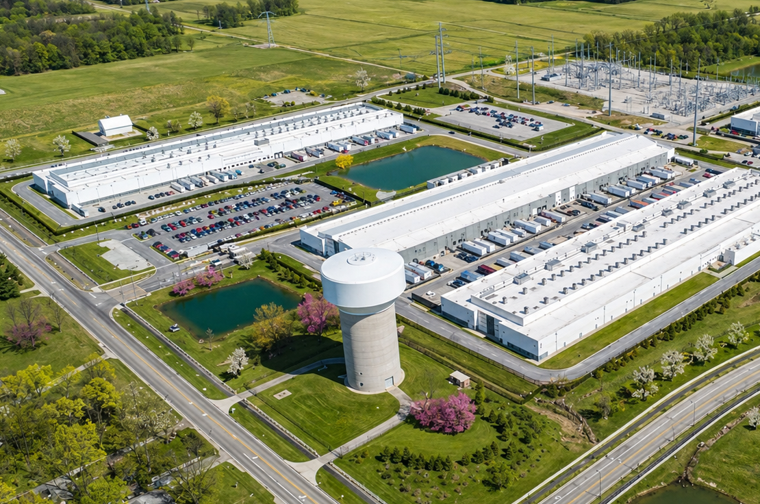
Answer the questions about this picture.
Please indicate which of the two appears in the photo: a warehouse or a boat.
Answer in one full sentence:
Of the two, only a warehouse appears.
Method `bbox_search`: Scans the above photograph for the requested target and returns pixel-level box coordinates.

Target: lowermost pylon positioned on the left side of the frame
[257,13,276,46]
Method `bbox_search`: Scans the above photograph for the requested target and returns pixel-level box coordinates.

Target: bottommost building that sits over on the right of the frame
[447,369,472,388]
